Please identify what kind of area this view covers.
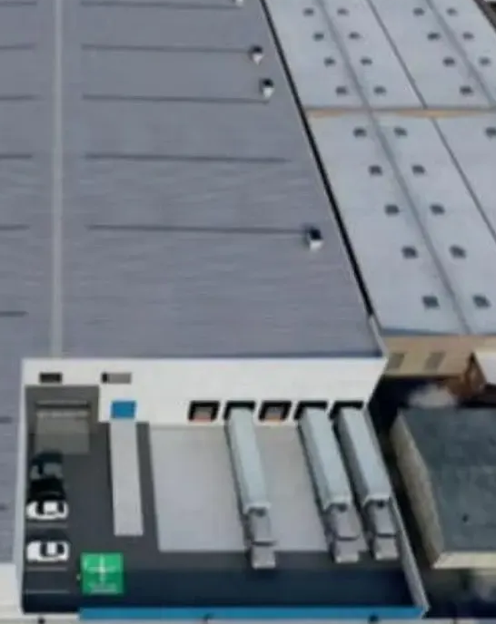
industrial area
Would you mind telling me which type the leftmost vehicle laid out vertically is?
truck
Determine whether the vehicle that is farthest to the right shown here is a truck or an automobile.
truck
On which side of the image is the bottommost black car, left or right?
left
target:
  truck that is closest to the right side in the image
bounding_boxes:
[334,407,400,567]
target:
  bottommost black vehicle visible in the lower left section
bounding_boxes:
[24,475,64,497]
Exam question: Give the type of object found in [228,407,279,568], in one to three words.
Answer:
truck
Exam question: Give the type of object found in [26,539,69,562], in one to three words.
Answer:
car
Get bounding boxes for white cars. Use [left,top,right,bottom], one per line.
[26,499,67,521]
[26,539,69,562]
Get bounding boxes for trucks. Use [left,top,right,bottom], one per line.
[228,407,279,568]
[299,407,360,567]
[334,407,400,567]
